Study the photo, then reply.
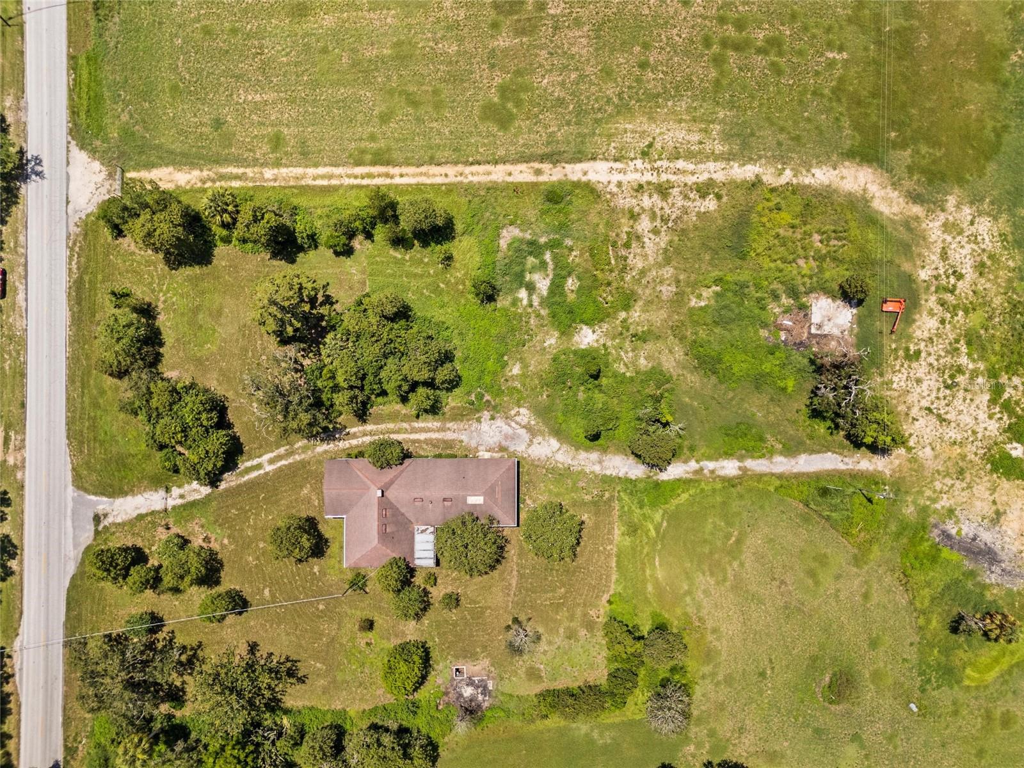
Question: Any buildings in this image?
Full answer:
Yes, the image includes a building.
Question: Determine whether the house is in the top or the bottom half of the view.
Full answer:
It is in the bottom half that the house appears.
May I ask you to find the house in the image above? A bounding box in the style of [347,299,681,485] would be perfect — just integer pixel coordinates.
[324,458,517,568]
